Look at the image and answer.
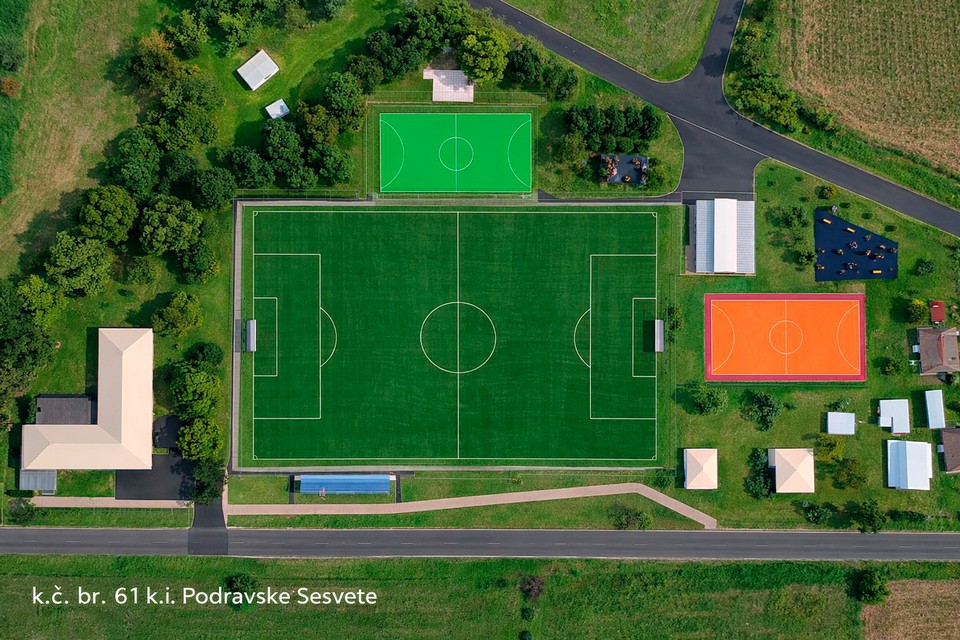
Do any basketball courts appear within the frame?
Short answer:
Yes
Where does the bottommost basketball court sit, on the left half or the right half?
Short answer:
right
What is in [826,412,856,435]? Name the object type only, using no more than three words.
shed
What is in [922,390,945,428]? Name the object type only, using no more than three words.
building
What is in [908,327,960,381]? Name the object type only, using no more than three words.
house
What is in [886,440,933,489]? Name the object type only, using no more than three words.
barn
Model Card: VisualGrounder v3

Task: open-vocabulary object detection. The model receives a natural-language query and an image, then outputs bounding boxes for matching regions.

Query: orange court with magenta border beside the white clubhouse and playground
[704,293,866,381]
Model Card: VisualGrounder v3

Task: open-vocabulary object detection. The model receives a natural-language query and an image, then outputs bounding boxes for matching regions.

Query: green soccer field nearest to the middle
[240,206,675,468]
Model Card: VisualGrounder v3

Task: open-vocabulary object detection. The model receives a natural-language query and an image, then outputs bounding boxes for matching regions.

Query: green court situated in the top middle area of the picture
[373,104,537,198]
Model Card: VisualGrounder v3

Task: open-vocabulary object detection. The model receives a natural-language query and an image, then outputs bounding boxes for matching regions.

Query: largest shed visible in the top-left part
[237,50,279,91]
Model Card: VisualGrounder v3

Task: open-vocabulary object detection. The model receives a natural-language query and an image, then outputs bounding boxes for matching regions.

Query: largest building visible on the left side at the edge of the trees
[22,328,154,469]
